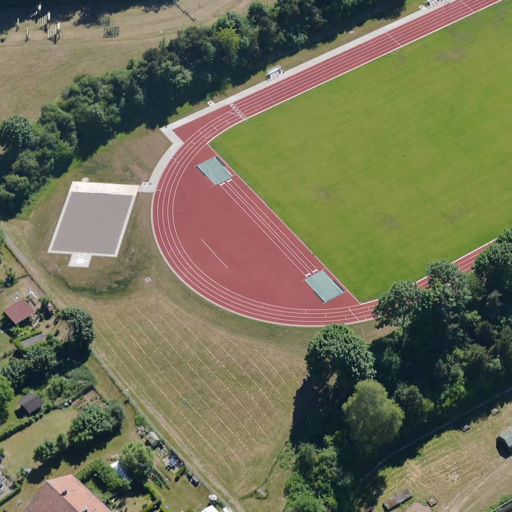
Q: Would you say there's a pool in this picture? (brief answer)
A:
No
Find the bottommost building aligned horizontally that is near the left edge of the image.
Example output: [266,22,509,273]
[24,474,109,512]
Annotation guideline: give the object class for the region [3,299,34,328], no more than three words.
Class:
building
